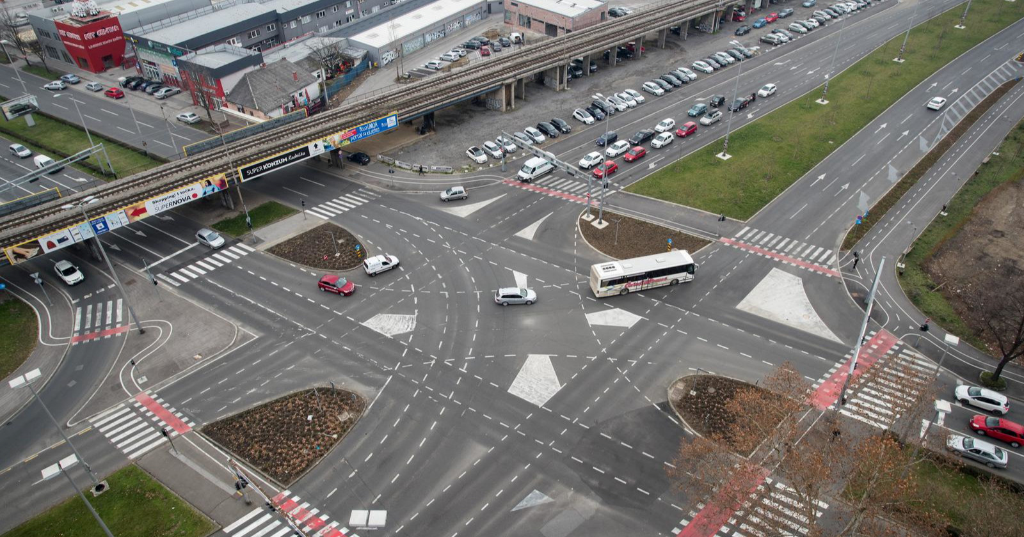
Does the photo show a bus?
Yes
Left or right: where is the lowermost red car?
right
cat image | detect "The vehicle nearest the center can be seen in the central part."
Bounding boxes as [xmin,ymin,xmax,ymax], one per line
[495,288,535,306]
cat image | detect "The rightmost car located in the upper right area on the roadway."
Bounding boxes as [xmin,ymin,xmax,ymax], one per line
[924,97,948,111]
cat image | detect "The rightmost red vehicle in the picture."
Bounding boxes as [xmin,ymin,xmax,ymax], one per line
[969,417,1024,450]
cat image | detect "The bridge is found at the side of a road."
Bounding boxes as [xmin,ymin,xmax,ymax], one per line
[0,0,806,265]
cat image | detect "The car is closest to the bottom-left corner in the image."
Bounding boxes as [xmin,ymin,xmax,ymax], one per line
[55,261,82,285]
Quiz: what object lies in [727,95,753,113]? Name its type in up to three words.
vehicle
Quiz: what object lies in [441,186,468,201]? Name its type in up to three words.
car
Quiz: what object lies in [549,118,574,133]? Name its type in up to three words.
car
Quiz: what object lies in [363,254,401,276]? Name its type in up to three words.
vehicle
